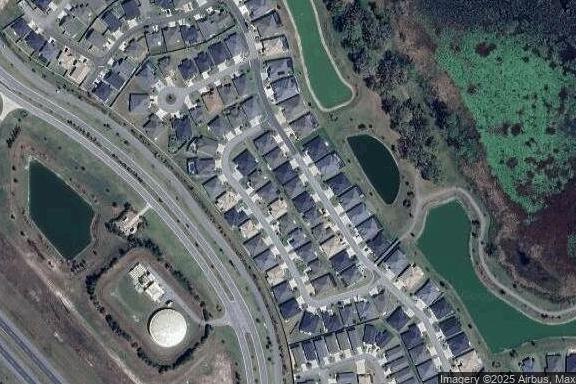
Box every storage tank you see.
[149,309,187,347]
